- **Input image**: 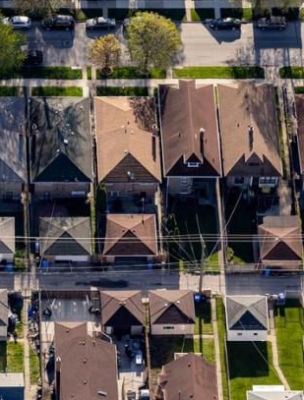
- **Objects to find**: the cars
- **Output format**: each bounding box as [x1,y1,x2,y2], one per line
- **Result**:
[3,15,30,28]
[85,16,115,30]
[257,14,288,29]
[122,14,152,28]
[44,14,74,29]
[209,16,239,30]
